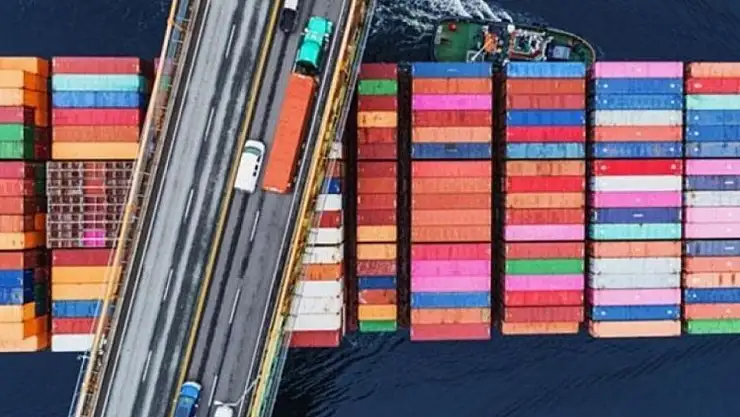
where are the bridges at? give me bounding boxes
[63,0,381,417]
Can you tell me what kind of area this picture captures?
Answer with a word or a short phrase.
port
